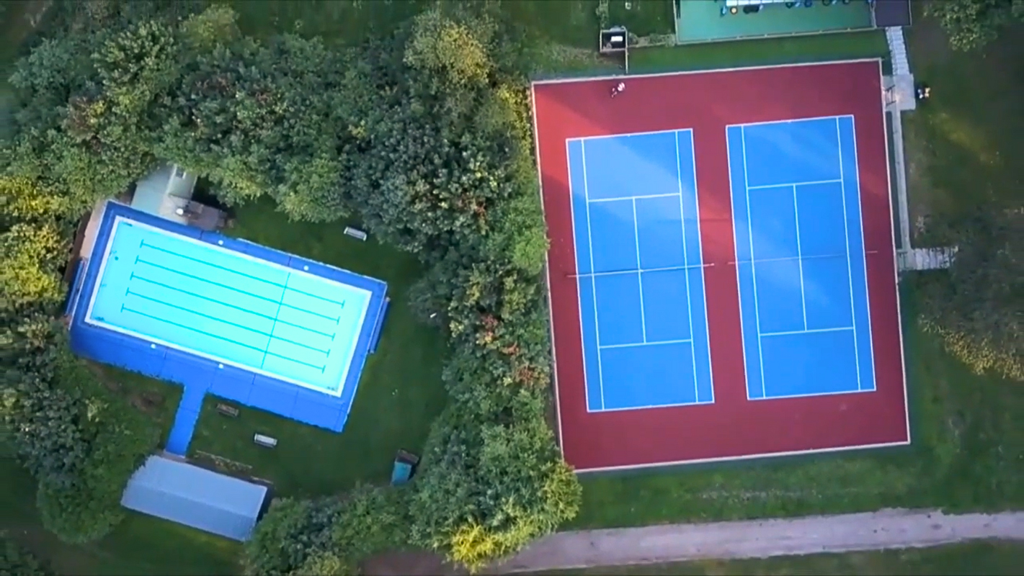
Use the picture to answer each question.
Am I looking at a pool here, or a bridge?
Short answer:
pool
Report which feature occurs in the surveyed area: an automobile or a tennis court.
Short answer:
tennis court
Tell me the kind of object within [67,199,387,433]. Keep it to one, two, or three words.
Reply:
swimming pool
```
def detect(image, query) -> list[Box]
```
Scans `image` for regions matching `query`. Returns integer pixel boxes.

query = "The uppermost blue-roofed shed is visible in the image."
[393,448,420,485]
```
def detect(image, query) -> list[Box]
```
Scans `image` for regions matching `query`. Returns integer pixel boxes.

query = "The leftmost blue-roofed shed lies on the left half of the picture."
[121,454,269,542]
